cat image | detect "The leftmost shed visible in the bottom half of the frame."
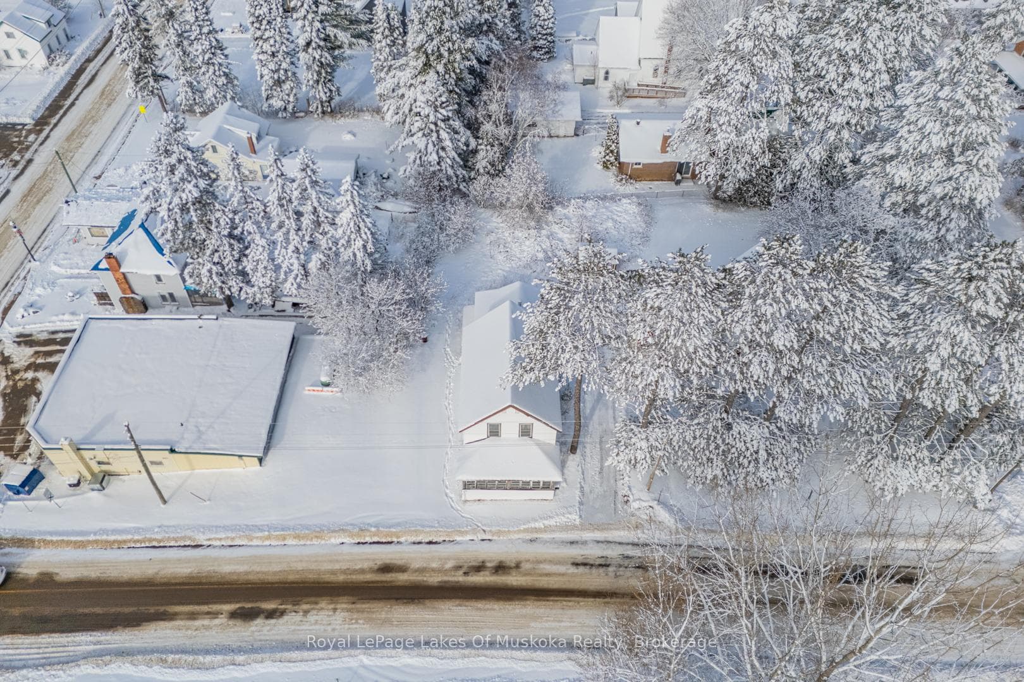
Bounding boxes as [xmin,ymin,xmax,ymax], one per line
[0,458,50,502]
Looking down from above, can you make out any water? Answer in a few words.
No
